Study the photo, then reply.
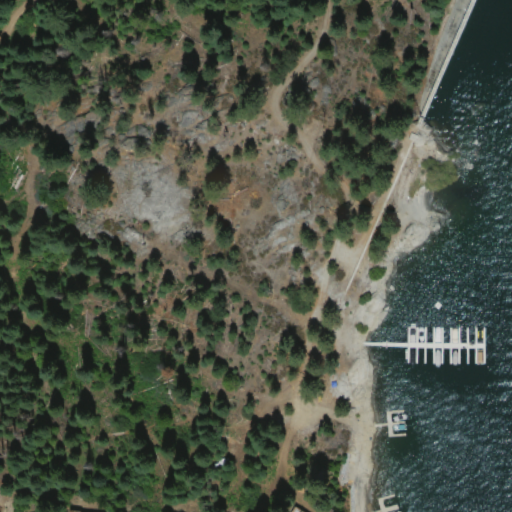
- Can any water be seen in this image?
Yes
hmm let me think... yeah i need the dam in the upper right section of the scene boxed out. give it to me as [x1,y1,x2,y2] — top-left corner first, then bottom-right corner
[414,0,476,118]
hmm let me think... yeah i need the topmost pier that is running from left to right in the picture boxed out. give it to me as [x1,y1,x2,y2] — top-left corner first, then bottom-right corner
[362,327,486,364]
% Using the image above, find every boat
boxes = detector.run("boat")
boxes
[435,326,442,342]
[435,348,442,367]
[452,327,458,342]
[410,349,416,365]
[419,328,424,342]
[452,350,457,365]
[392,415,408,421]
[393,426,408,432]
[410,324,416,342]
[478,350,484,365]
